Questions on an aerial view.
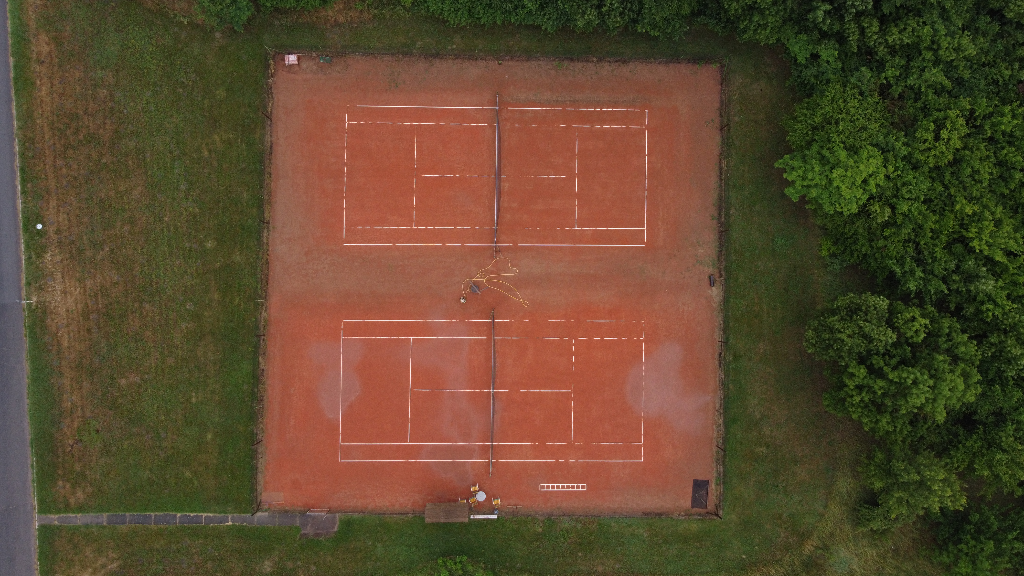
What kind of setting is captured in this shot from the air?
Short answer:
sports ground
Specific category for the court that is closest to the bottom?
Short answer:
tennis court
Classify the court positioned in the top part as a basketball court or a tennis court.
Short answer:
tennis court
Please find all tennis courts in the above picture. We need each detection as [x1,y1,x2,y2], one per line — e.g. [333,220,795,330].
[267,56,722,287]
[261,281,719,512]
